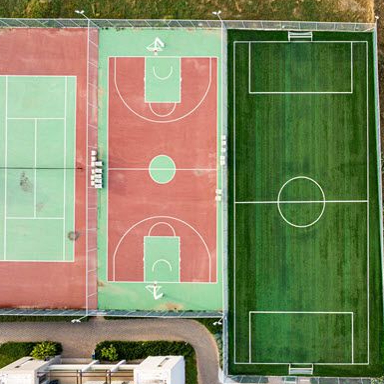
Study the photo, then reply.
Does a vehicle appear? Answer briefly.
No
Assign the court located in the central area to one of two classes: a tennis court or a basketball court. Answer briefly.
basketball court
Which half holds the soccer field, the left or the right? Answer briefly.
right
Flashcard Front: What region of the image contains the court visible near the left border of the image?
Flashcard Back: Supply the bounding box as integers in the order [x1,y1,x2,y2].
[0,27,98,310]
